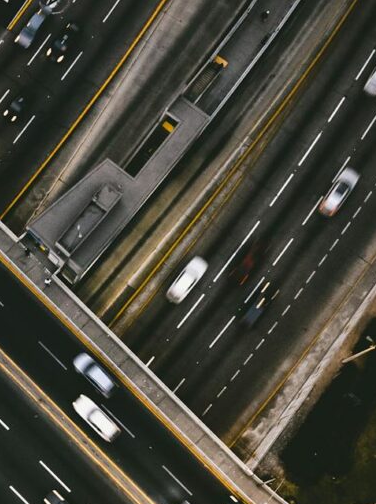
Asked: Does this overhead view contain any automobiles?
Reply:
Yes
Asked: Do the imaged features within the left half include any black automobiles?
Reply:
Yes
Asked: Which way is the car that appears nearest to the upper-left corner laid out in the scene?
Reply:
at an angle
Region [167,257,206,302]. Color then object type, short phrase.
white car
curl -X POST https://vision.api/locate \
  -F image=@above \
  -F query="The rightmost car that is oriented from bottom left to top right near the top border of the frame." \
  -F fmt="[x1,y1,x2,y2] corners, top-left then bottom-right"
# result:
[45,18,84,64]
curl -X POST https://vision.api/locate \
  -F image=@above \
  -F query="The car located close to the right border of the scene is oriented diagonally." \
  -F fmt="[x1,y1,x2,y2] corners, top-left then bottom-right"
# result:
[317,167,359,214]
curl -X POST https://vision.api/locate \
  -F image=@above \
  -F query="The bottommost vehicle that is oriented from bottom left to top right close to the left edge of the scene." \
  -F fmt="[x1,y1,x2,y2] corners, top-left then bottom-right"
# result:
[0,82,36,128]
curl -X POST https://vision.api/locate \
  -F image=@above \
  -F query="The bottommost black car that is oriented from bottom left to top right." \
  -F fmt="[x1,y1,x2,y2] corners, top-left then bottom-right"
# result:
[236,279,277,326]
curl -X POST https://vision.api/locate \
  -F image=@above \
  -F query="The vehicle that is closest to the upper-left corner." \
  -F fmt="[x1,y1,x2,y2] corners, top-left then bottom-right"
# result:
[13,5,52,51]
